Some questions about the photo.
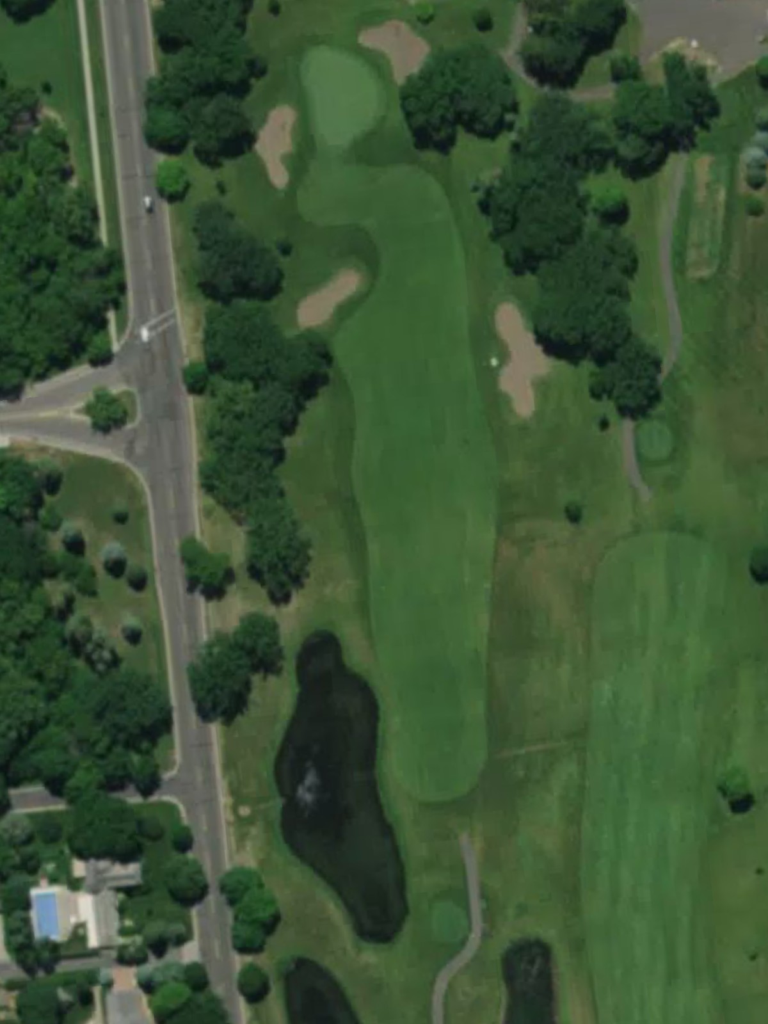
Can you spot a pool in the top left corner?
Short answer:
No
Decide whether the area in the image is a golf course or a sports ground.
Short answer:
golf course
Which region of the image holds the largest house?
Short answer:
bottom left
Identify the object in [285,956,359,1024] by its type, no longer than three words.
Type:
pond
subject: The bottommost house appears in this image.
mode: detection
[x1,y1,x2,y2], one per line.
[71,859,141,949]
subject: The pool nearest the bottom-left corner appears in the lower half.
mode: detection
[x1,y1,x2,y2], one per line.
[31,888,64,938]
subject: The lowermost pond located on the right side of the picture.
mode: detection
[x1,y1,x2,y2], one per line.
[504,938,555,1024]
